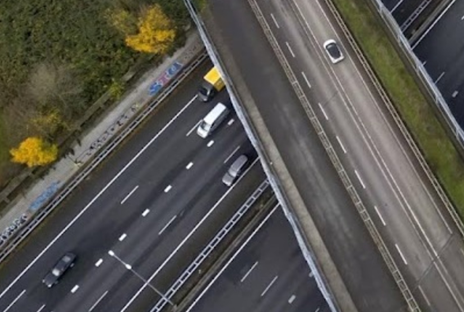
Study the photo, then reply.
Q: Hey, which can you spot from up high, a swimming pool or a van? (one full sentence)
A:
Visible in the photo is a van.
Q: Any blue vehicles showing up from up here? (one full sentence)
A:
No, there appears to be no blue vehicle in this shot.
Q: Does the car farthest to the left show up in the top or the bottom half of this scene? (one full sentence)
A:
Seen from above, the car farthest to the left lies in the bottom half of the view.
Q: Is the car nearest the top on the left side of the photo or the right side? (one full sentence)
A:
You can find the car nearest the top on the right side of the picture.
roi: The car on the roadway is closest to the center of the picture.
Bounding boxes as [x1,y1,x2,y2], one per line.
[219,155,252,187]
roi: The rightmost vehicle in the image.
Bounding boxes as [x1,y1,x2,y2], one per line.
[323,38,347,66]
